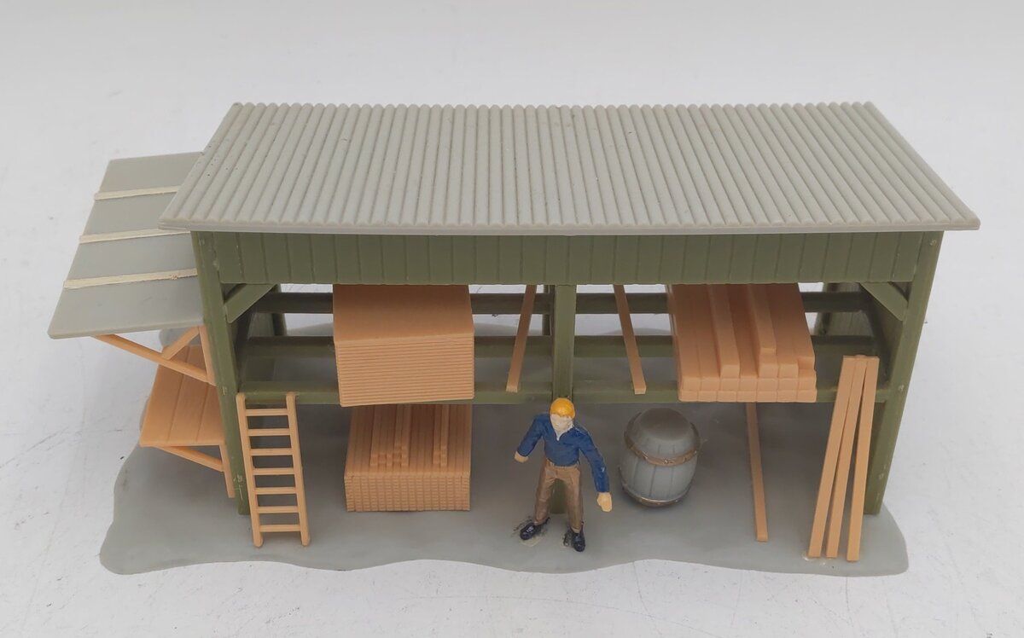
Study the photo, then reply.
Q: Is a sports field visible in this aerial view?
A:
No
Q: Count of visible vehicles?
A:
zero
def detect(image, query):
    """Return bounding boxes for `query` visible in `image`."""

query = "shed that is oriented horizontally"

[49,100,979,515]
